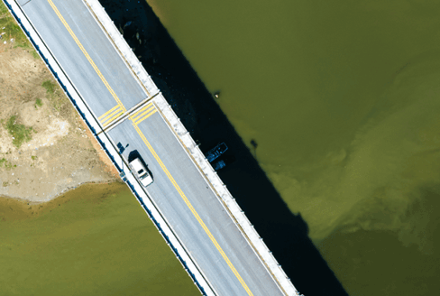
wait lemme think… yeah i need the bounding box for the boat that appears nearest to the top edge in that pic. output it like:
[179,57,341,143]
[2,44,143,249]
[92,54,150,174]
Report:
[206,144,228,163]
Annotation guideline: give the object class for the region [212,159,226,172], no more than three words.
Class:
boat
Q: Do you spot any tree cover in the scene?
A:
No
